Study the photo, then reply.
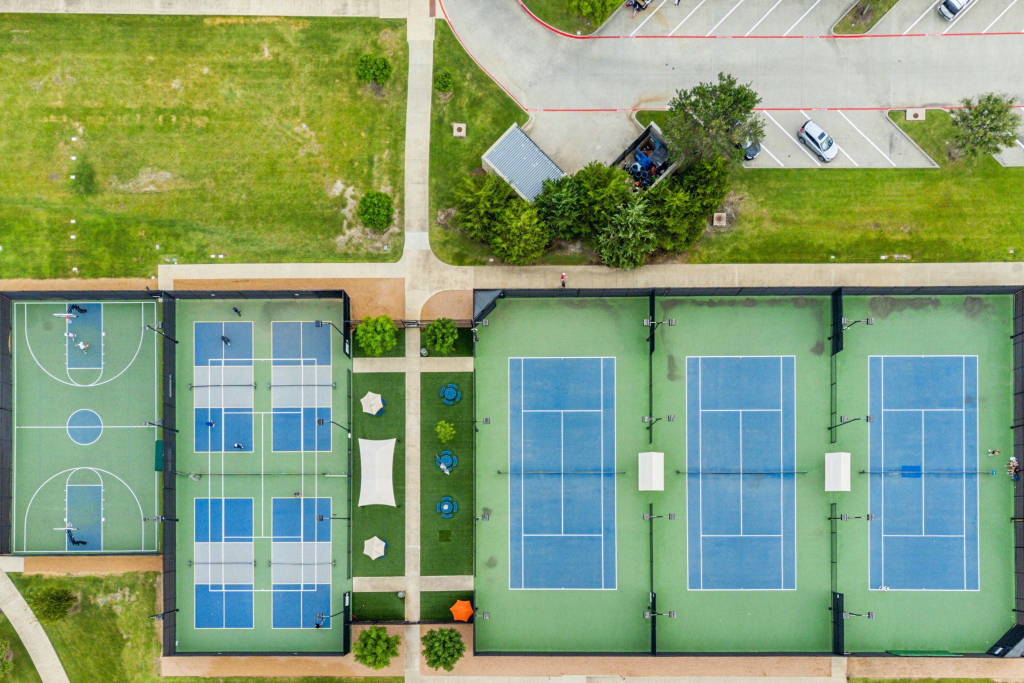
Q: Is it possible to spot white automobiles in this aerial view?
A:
Yes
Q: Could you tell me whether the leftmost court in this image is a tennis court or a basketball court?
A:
basketball court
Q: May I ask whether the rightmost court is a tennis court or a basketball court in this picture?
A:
tennis court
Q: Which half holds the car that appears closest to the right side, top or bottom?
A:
top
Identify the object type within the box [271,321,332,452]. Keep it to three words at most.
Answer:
sports court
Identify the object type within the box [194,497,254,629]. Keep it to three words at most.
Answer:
sports court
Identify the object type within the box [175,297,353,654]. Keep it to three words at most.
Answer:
tennis court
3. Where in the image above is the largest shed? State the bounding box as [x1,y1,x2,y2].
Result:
[482,122,567,207]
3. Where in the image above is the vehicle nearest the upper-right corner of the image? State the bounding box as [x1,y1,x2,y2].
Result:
[937,0,971,22]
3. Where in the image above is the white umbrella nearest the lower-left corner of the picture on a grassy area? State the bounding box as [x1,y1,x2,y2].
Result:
[364,537,385,560]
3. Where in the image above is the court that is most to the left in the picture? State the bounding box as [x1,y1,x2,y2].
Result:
[11,299,158,554]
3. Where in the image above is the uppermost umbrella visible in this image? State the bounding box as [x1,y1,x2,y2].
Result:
[361,392,384,415]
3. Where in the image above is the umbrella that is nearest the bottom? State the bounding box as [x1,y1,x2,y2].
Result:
[450,600,473,622]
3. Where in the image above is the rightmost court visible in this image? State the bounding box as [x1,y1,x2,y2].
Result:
[832,295,1017,653]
